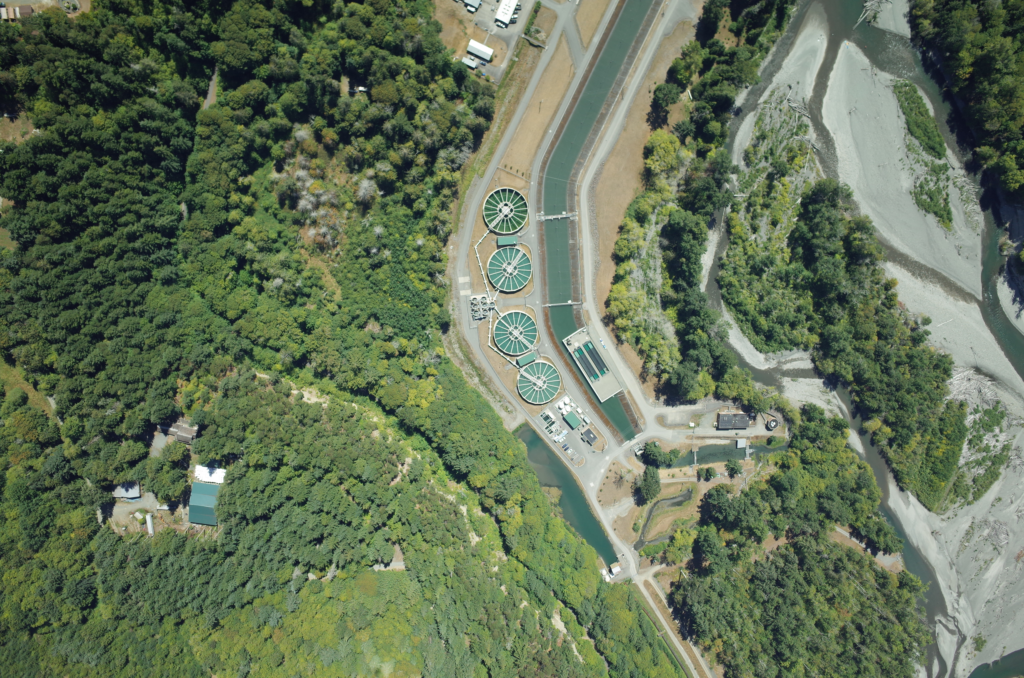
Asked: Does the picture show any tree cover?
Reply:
Yes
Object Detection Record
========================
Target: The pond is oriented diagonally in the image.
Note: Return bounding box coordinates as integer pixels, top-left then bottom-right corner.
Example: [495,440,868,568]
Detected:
[516,423,614,567]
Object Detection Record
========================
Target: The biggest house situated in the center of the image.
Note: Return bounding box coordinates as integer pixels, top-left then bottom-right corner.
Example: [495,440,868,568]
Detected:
[562,326,626,402]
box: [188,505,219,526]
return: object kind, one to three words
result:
barn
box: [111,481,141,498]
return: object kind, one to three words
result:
shed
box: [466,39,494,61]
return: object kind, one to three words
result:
house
